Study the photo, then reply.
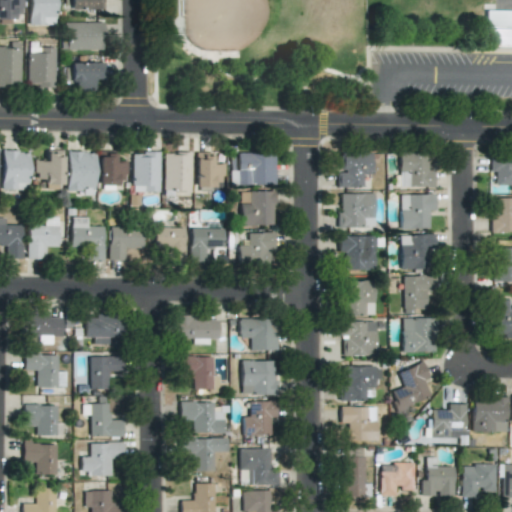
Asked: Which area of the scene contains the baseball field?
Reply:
top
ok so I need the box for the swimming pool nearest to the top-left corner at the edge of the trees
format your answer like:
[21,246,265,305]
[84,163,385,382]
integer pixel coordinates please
[100,192,122,206]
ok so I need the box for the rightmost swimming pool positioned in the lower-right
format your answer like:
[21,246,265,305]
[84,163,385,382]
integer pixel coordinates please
[438,448,454,466]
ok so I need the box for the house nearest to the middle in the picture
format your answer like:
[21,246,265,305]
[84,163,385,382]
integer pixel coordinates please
[240,232,278,262]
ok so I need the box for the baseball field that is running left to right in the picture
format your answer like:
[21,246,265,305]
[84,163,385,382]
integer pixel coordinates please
[176,0,362,62]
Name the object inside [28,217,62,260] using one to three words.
house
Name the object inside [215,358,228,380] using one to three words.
swimming pool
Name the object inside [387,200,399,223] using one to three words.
swimming pool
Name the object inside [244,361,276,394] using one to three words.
house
